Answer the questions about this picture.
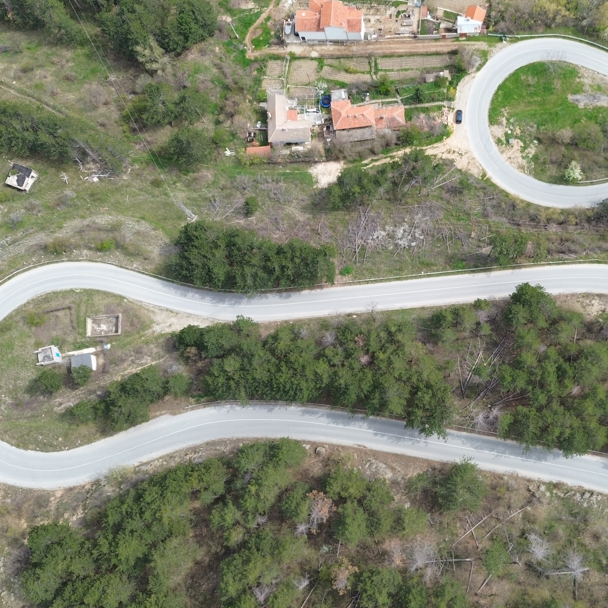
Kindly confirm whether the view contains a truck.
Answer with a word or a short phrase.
No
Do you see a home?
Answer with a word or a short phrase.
Yes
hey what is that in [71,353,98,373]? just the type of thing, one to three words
shed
